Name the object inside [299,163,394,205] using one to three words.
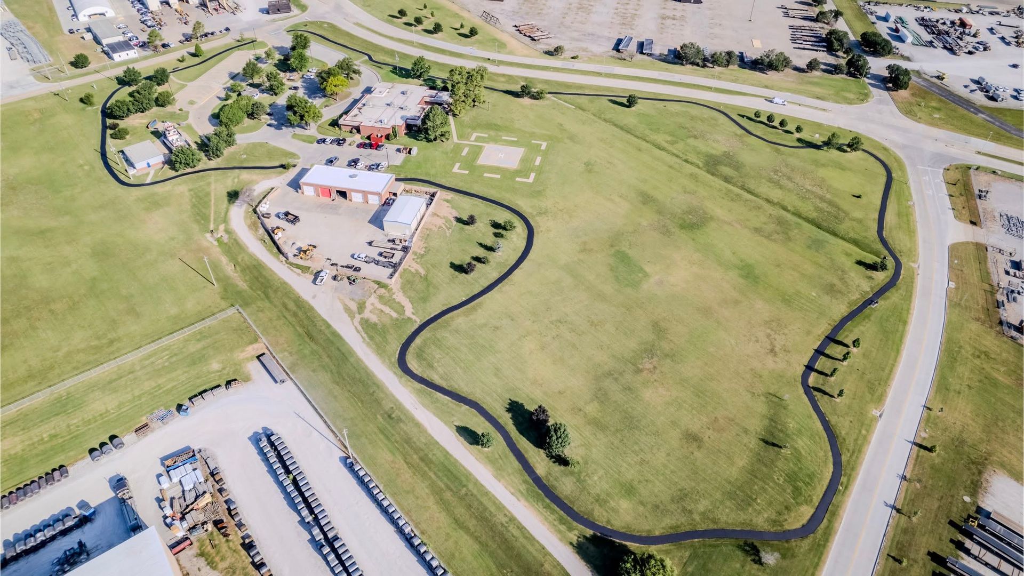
building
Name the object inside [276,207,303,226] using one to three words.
vehicle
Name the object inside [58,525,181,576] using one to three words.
building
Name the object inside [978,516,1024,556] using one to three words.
trailer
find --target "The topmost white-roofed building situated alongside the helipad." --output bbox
[339,82,452,139]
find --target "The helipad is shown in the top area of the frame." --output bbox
[453,133,546,182]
